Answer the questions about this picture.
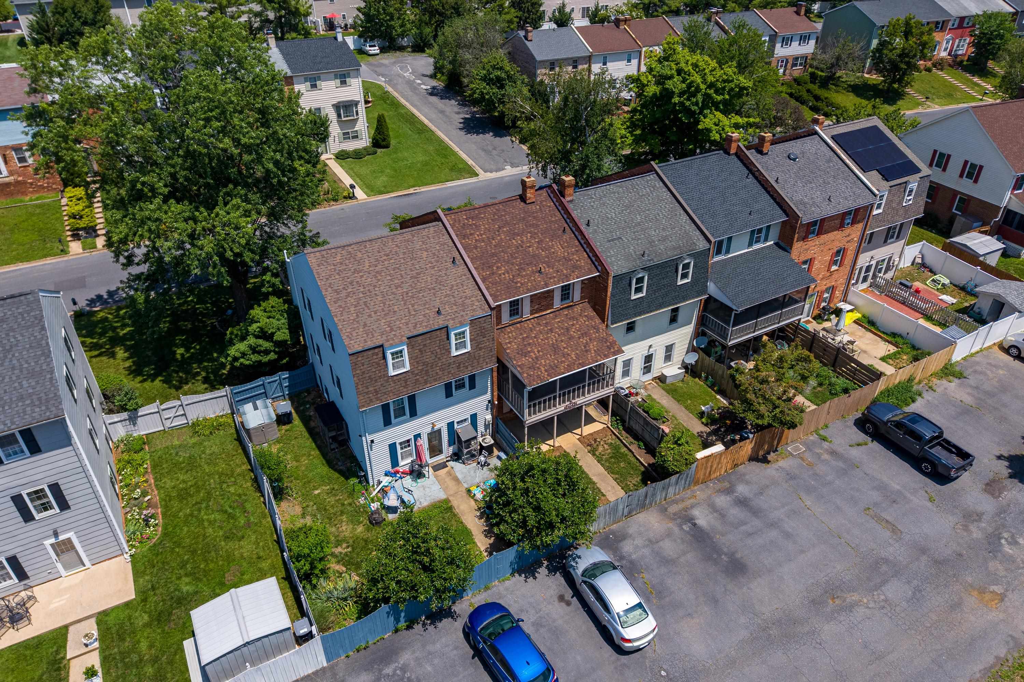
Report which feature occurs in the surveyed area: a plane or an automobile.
automobile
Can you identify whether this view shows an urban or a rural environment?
urban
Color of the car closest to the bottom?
blue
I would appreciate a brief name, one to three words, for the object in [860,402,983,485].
truck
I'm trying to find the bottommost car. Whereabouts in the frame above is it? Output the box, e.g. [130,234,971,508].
[466,600,561,682]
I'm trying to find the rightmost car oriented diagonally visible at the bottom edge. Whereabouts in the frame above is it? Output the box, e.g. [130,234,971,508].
[565,543,660,652]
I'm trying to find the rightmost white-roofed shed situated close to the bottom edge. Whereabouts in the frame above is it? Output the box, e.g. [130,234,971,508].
[190,578,297,682]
